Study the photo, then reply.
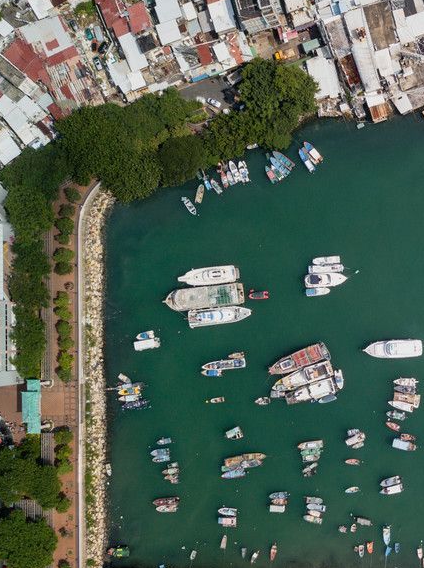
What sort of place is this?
residential area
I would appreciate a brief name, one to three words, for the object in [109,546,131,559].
boat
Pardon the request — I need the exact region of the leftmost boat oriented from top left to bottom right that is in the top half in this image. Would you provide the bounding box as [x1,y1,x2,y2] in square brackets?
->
[182,196,197,214]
